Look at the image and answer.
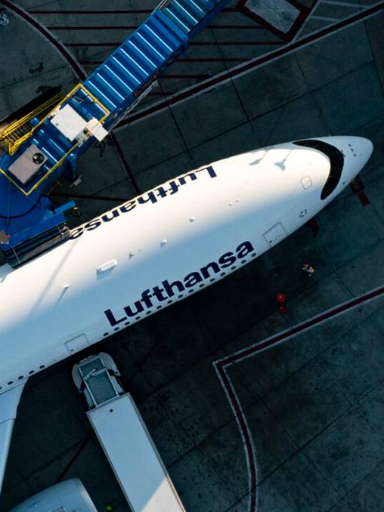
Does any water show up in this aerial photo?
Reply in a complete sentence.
No, there's no water in this view.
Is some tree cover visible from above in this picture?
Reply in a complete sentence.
No, there's no tree cover in this view.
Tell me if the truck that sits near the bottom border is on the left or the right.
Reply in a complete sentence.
The truck that sits near the bottom border appears in the left half of the scene.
